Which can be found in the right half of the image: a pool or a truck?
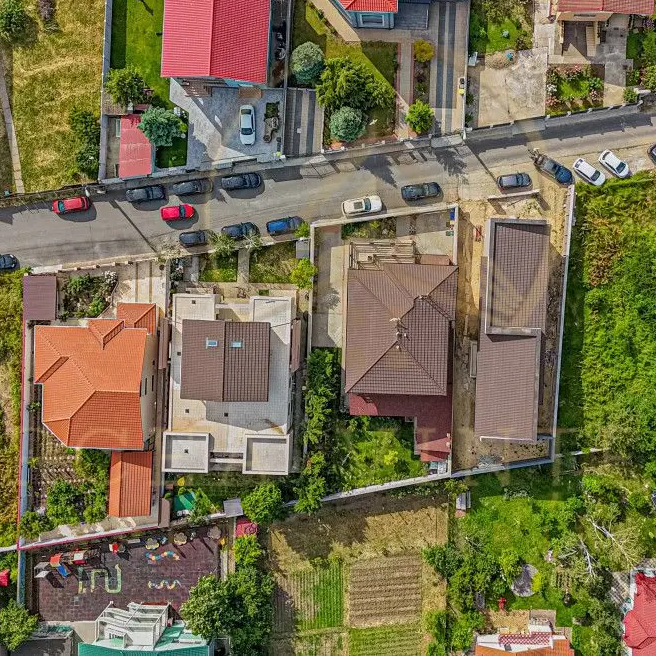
truck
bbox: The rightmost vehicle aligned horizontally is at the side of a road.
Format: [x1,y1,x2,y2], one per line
[497,173,530,190]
